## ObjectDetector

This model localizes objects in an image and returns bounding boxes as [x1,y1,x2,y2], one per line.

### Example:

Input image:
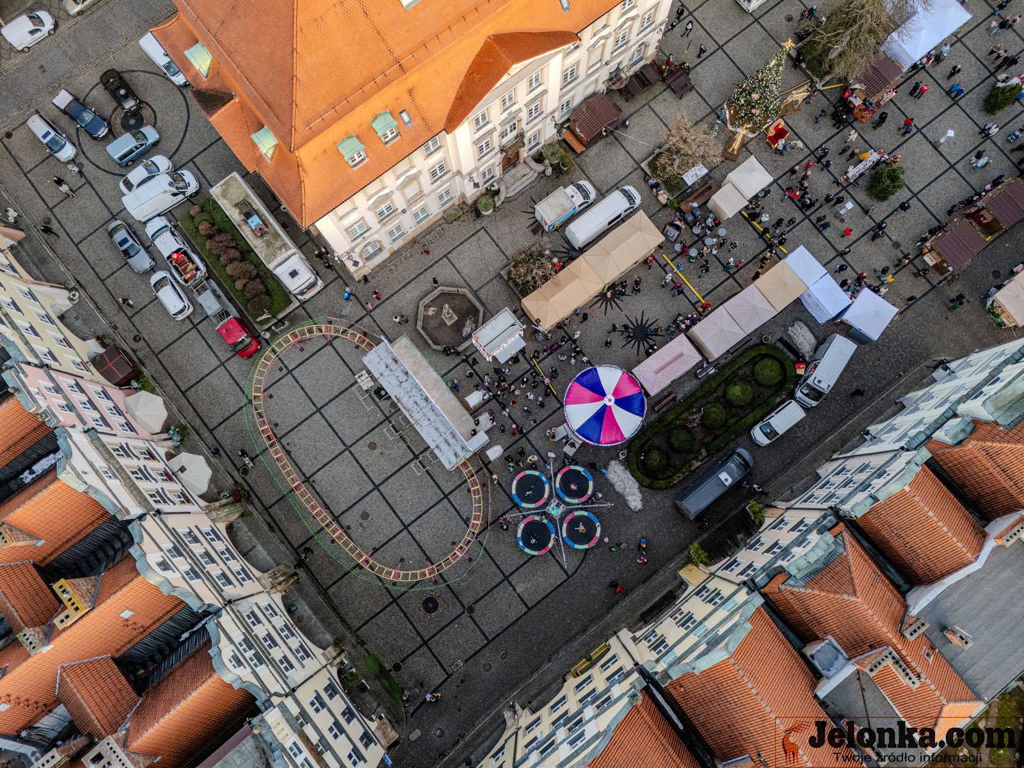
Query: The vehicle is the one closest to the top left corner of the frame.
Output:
[0,13,59,54]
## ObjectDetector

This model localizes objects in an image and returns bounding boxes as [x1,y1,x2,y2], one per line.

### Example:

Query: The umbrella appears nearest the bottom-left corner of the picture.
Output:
[173,455,213,494]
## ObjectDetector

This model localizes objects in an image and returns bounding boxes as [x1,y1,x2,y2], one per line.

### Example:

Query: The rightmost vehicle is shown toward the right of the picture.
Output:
[792,330,872,412]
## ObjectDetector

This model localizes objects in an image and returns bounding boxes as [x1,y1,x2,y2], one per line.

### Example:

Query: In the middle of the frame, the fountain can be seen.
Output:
[414,283,485,353]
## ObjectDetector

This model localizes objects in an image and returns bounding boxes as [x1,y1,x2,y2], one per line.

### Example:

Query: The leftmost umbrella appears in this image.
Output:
[127,392,168,431]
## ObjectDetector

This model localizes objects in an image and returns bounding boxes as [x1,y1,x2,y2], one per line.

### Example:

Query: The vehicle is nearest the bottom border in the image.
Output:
[674,446,758,522]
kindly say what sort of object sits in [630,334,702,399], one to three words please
tent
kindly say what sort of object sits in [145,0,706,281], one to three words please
building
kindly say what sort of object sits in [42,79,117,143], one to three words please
truck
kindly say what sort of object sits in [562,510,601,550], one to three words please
trampoline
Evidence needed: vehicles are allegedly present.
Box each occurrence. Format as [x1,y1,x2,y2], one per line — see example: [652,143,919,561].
[792,330,872,412]
[749,399,811,449]
[125,19,187,92]
[184,271,264,360]
[19,109,83,165]
[529,177,600,237]
[42,79,117,143]
[0,13,59,54]
[114,151,177,195]
[561,183,645,253]
[196,157,327,301]
[144,214,208,288]
[98,66,146,118]
[674,446,758,522]
[148,268,198,325]
[99,123,165,169]
[103,219,159,278]
[736,0,786,17]
[115,173,203,229]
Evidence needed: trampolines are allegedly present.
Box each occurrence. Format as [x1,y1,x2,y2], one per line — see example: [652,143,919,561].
[555,465,593,503]
[517,515,555,555]
[512,471,549,508]
[562,510,601,550]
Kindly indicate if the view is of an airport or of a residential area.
residential area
